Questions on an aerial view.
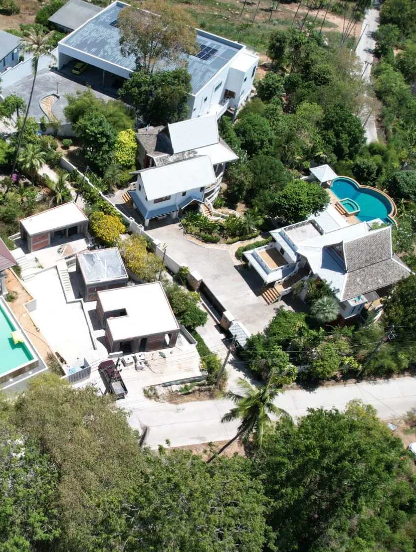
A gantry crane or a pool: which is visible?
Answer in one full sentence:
This aerial view contains a pool.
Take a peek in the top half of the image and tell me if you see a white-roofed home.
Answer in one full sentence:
Yes, in the top half of the image there is a white-roofed home.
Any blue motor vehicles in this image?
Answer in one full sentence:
No, there's no blue motor vehicle here.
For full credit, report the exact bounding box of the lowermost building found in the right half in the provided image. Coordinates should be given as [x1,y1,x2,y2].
[241,205,414,330]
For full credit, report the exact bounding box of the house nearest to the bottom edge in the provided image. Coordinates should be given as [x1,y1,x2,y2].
[94,280,179,358]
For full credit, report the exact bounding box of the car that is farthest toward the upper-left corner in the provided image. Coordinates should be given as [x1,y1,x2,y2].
[70,60,88,75]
